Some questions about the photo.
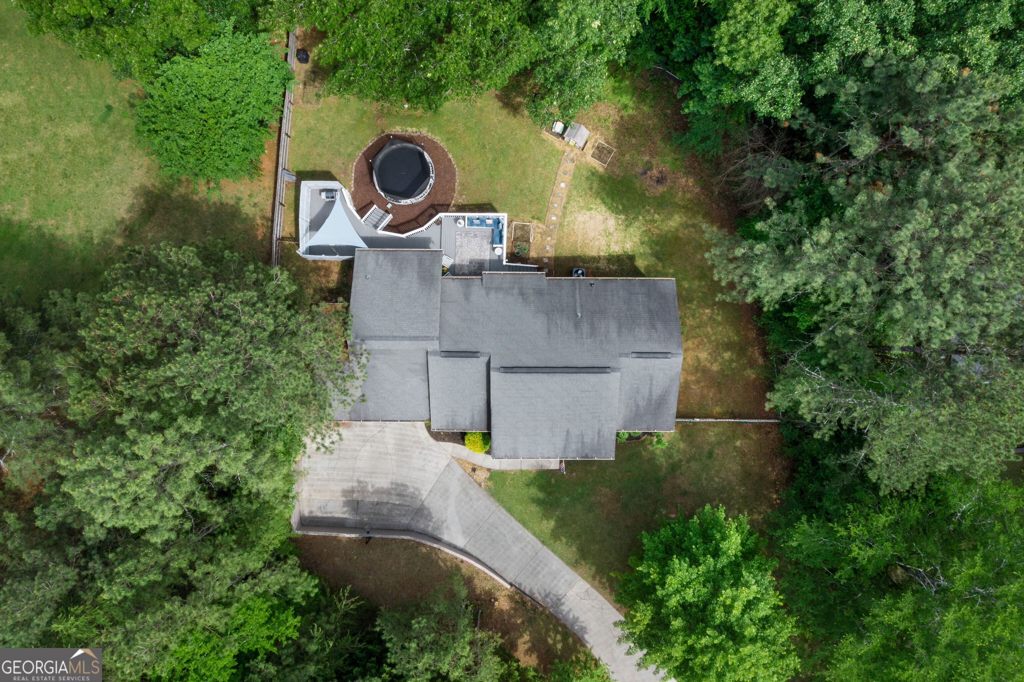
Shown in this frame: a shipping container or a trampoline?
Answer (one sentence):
Looking from above, you can make out a trampoline.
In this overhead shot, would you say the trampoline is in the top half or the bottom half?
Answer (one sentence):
You can find the trampoline in the top half.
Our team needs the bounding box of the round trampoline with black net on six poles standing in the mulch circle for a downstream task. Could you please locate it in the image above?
[367,136,436,207]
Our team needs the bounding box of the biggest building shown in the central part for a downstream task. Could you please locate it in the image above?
[318,247,683,461]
